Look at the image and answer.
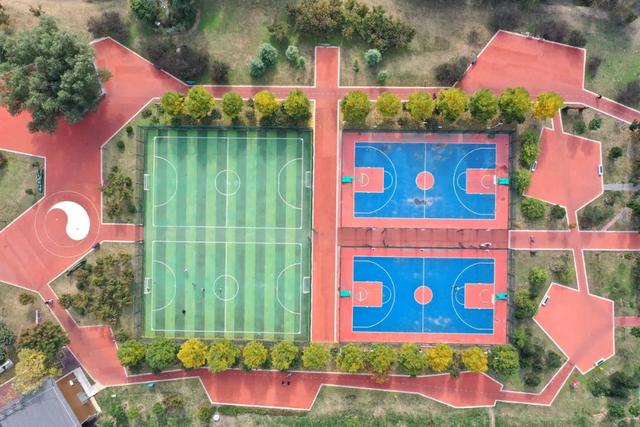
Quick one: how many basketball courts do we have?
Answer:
2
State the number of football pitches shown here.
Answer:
2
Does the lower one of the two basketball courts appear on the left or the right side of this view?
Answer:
right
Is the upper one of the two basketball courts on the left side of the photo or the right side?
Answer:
right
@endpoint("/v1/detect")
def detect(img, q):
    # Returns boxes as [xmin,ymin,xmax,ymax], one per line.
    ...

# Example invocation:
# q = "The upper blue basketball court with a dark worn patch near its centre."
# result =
[339,131,509,229]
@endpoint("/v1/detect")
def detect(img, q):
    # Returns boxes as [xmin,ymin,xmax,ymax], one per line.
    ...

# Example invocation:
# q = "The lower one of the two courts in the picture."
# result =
[339,246,508,345]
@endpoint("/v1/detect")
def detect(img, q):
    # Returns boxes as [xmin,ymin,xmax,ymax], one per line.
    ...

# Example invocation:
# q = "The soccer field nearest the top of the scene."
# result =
[145,130,310,236]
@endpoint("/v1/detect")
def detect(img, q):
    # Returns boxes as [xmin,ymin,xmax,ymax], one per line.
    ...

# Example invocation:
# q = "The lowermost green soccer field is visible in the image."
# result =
[144,234,310,339]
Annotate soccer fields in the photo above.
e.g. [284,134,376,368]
[145,130,310,236]
[144,234,310,339]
